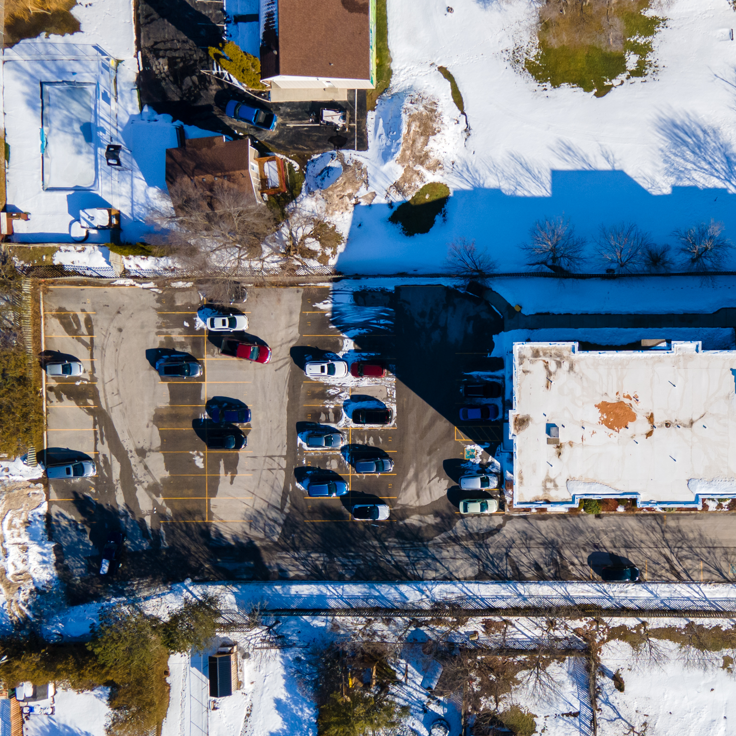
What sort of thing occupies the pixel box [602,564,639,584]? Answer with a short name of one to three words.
car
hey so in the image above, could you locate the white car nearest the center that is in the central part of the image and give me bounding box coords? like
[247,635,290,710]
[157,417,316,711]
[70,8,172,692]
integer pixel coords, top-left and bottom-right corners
[304,359,348,379]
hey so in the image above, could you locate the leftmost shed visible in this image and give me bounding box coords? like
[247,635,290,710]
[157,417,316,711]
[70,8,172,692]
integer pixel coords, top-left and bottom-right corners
[0,213,23,237]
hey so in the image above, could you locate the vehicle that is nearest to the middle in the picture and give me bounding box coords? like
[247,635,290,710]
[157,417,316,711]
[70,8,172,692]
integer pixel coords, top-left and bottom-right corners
[350,359,387,379]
